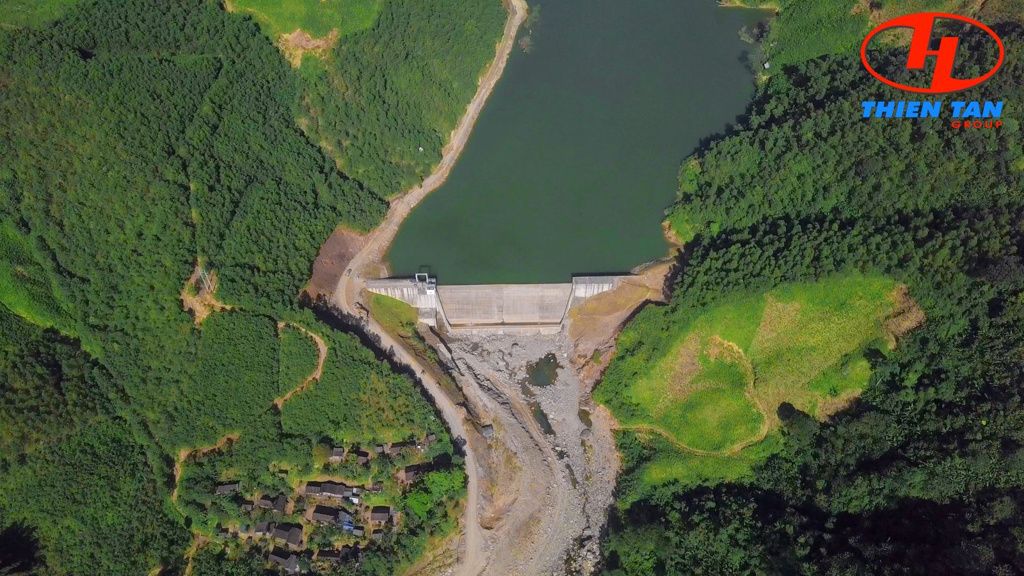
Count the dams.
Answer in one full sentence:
The photo contains exactly 1 dam.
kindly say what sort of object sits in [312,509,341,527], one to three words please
house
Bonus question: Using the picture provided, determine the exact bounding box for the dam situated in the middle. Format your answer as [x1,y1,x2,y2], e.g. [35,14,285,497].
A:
[365,275,635,339]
